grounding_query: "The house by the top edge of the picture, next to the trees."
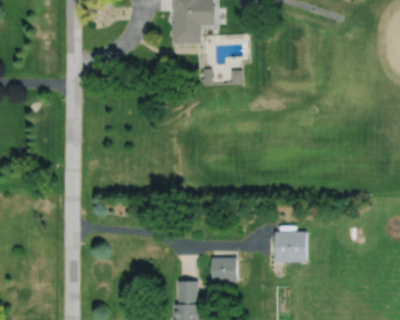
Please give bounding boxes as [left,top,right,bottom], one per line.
[169,0,218,44]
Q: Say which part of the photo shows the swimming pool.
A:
top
